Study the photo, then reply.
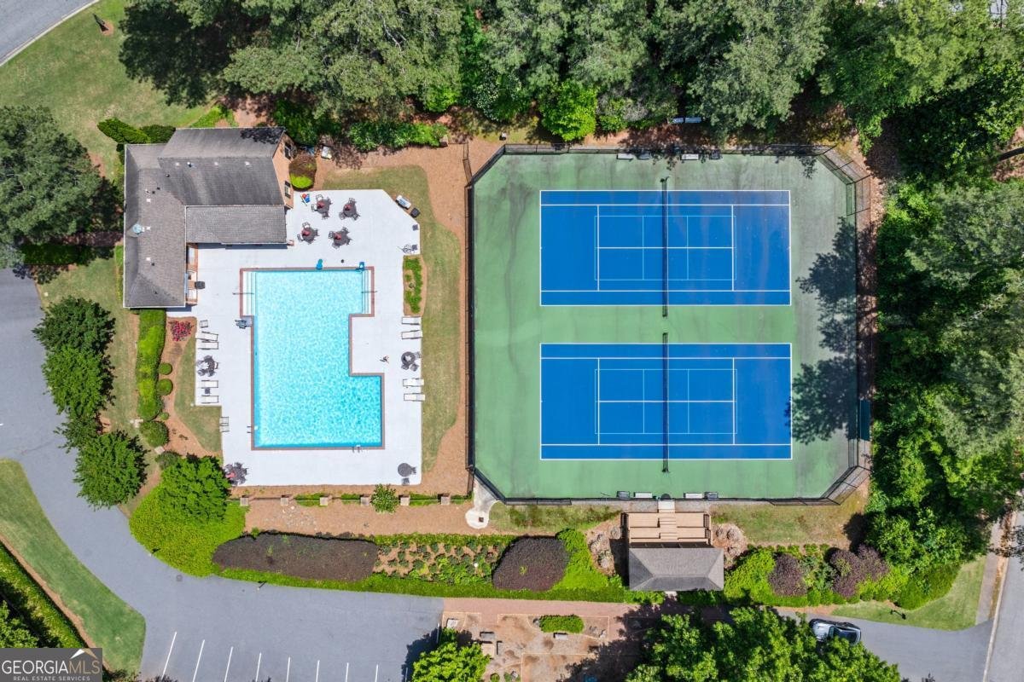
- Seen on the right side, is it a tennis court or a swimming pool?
tennis court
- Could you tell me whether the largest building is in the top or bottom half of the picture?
top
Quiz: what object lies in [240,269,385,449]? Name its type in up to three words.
swimming pool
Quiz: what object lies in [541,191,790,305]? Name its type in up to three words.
tennis court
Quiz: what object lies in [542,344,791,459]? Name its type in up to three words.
tennis court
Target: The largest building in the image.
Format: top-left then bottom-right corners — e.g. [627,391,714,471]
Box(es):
[123,127,294,309]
